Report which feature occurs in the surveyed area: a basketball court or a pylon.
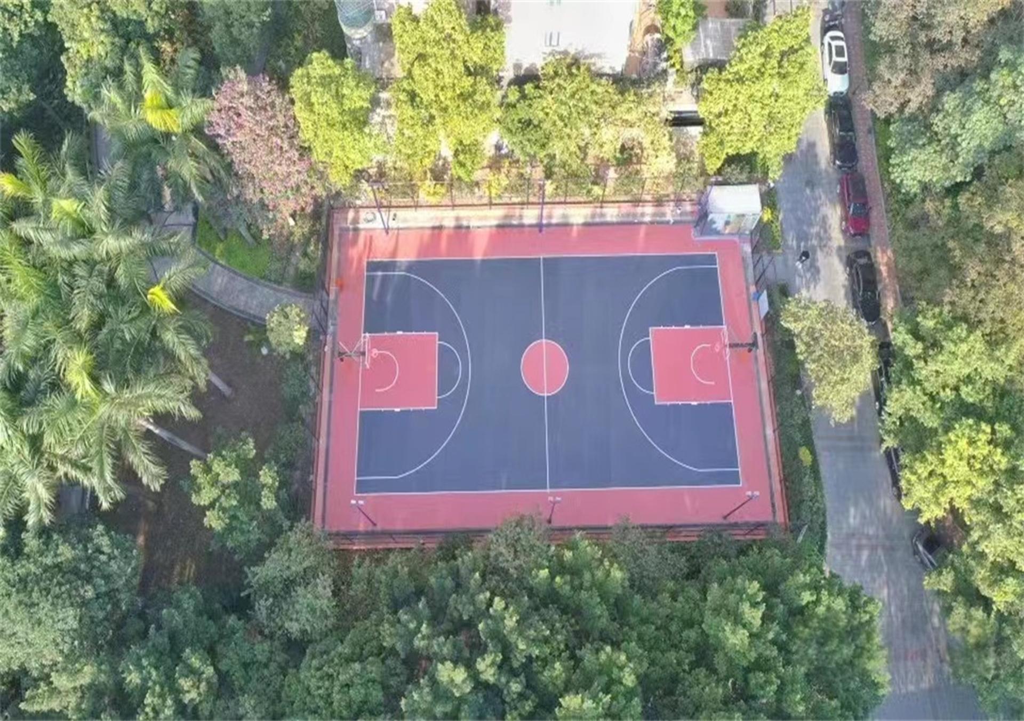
basketball court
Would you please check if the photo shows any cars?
Yes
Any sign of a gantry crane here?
No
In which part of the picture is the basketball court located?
center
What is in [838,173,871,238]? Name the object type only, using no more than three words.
car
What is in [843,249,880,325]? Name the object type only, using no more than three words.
car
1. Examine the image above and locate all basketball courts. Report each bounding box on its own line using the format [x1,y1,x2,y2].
[316,198,785,546]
